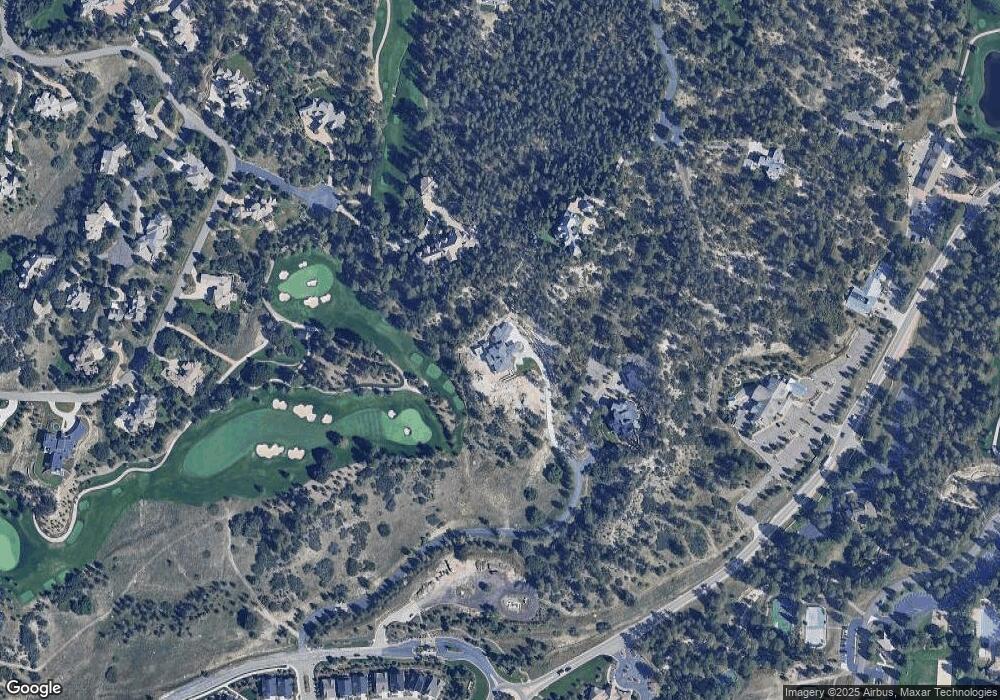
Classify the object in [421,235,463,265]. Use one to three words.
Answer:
house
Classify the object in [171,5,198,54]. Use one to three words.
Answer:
house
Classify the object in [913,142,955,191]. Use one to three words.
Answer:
building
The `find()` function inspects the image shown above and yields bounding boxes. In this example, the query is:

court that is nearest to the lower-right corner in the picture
[805,606,826,645]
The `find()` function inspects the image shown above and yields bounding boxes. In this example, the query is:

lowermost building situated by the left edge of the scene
[41,420,91,470]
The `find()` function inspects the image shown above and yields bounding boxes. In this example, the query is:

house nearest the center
[484,319,521,376]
